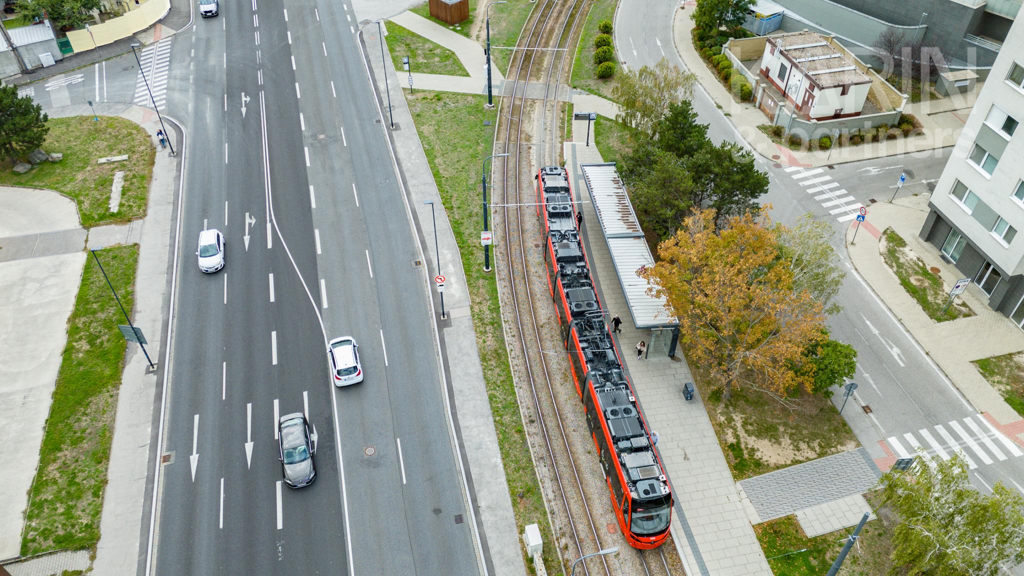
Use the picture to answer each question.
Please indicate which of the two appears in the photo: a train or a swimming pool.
train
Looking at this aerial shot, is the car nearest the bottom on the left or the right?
left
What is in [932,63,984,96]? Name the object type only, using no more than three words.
shed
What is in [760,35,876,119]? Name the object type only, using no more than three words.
house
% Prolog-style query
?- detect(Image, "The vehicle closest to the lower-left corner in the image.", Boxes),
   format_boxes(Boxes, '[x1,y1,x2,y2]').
[274,410,316,488]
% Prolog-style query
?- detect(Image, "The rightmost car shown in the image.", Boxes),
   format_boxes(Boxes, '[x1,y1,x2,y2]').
[323,330,362,387]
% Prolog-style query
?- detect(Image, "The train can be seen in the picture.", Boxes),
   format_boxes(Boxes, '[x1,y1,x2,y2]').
[535,166,677,548]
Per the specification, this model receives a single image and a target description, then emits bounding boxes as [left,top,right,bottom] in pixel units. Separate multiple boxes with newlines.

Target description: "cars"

[274,410,316,488]
[323,330,362,387]
[197,0,219,15]
[192,226,225,272]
